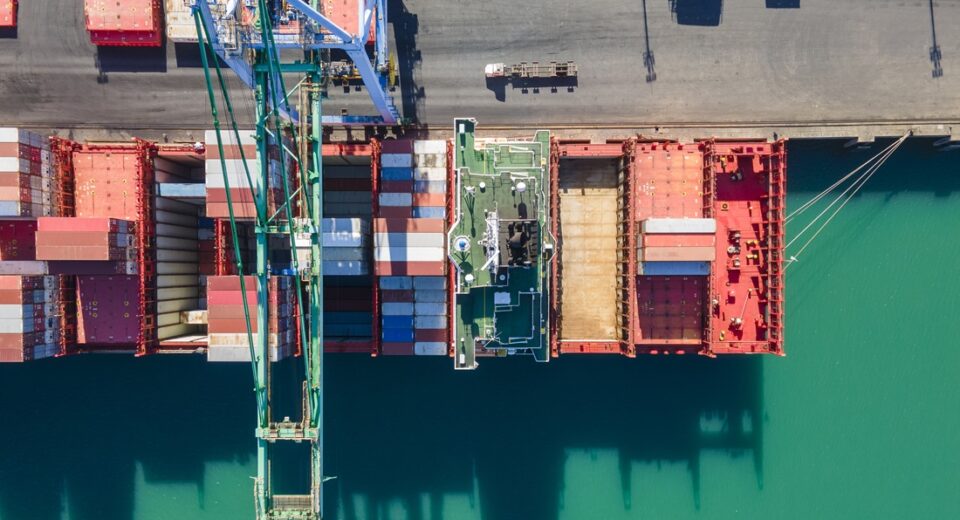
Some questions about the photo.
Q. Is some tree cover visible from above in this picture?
No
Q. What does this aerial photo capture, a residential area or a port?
port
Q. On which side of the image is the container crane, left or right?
left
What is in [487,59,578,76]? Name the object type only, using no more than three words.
vehicle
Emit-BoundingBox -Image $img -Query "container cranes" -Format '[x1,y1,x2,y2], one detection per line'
[189,0,403,520]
